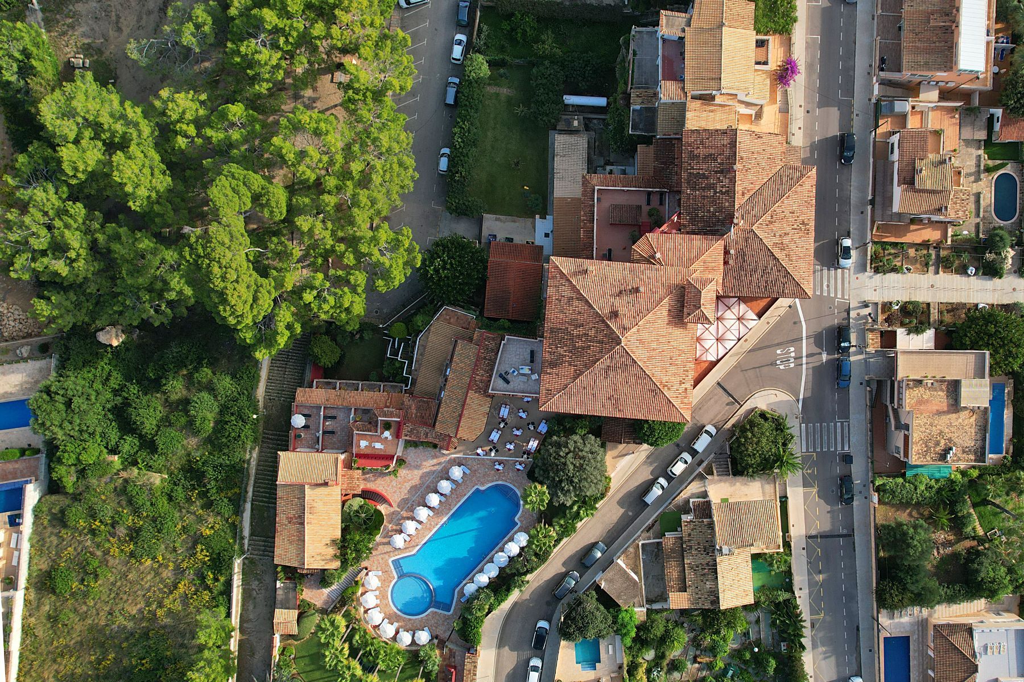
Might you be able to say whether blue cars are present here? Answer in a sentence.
Yes, there's a blue car down there.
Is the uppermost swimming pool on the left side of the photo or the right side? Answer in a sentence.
It is on the right.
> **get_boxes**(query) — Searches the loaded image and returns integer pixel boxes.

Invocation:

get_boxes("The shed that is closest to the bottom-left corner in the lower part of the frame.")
[273,576,302,636]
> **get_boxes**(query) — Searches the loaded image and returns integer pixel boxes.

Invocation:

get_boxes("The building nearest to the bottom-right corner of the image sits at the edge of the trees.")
[912,609,1024,682]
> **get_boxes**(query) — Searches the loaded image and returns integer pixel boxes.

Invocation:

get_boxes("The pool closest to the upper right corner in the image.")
[991,170,1021,222]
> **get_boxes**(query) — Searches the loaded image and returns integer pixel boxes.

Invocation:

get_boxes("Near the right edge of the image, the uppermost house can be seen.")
[876,0,997,101]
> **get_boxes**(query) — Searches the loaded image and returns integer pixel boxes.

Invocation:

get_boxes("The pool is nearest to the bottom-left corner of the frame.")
[0,483,24,513]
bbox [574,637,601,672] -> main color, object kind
blue swimming pool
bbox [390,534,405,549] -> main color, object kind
white umbrella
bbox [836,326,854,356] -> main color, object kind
black car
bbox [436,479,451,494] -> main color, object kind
white umbrella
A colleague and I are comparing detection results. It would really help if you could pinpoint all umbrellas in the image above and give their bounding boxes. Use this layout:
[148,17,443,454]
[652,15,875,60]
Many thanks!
[514,532,529,547]
[415,628,430,644]
[474,572,489,586]
[426,492,441,508]
[463,581,478,596]
[365,574,380,589]
[380,620,395,636]
[390,534,405,549]
[368,608,383,623]
[414,507,429,522]
[504,541,520,556]
[402,520,417,535]
[289,412,307,430]
[483,563,498,578]
[448,465,463,480]
[397,630,412,646]
[436,479,451,494]
[362,592,377,607]
[493,551,508,567]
